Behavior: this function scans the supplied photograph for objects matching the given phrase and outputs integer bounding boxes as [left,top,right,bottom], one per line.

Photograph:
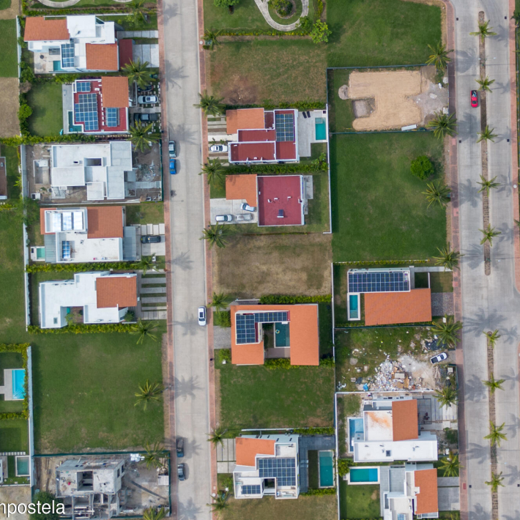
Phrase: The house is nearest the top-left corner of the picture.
[24,15,135,73]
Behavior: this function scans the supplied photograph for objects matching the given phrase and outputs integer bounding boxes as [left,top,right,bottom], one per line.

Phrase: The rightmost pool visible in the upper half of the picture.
[314,117,326,141]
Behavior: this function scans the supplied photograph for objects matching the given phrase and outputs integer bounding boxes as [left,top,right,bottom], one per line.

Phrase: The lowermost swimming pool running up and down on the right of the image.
[318,450,334,488]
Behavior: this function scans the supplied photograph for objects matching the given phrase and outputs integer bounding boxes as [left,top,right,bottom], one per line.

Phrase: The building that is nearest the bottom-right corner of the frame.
[384,460,439,520]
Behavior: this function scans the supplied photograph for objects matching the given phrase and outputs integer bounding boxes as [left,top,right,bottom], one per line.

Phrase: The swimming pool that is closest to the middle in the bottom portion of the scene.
[275,323,291,348]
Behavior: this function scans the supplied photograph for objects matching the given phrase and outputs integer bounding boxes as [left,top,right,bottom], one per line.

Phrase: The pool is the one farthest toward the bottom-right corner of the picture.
[348,467,379,484]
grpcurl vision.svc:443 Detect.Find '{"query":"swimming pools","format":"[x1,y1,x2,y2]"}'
[275,323,291,348]
[53,60,65,71]
[68,110,82,132]
[10,369,23,401]
[318,450,334,488]
[348,467,379,484]
[348,293,360,321]
[314,117,326,141]
[348,418,364,454]
[34,247,45,261]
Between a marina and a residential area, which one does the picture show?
residential area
